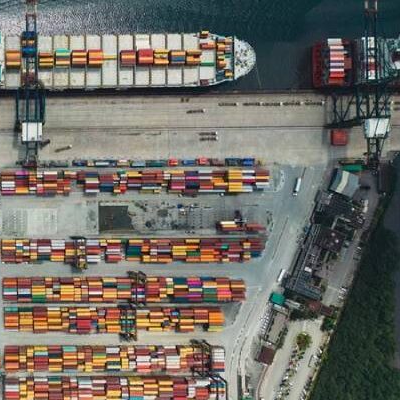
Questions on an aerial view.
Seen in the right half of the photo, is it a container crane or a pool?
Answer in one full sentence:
You can see a container crane in the right half of the photo.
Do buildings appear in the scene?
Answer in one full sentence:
Yes, a building can be made out from above.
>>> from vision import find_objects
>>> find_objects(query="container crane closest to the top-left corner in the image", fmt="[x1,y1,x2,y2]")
[12,0,45,166]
